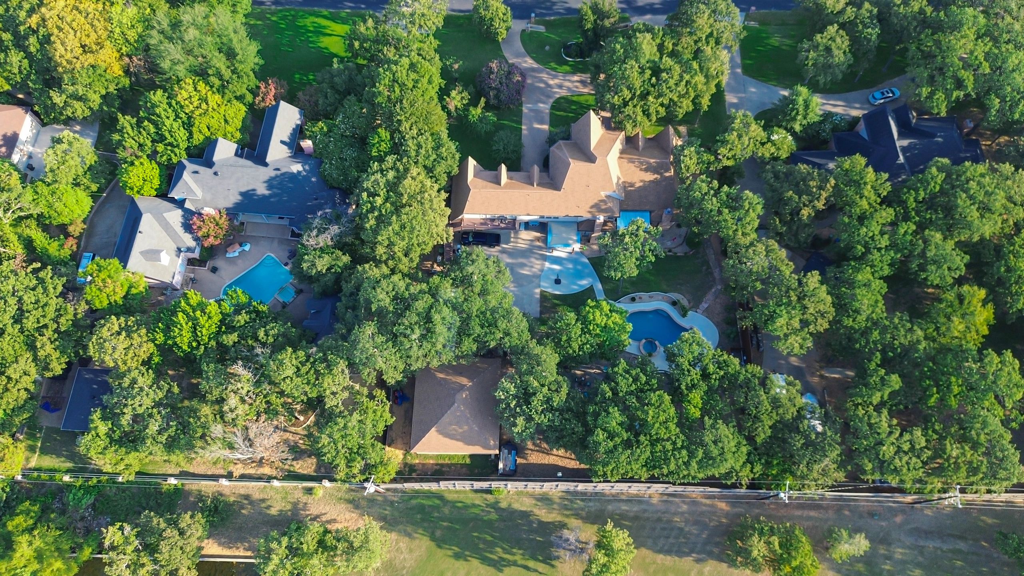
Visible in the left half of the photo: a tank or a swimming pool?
swimming pool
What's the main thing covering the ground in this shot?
trees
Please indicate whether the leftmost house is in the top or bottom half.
top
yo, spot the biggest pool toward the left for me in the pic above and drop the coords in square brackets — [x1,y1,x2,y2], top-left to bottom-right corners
[220,252,295,314]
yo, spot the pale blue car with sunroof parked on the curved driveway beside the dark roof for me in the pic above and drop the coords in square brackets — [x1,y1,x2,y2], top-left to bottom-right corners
[867,87,902,106]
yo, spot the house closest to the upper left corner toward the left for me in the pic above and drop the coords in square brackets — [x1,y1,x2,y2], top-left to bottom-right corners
[0,106,40,175]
